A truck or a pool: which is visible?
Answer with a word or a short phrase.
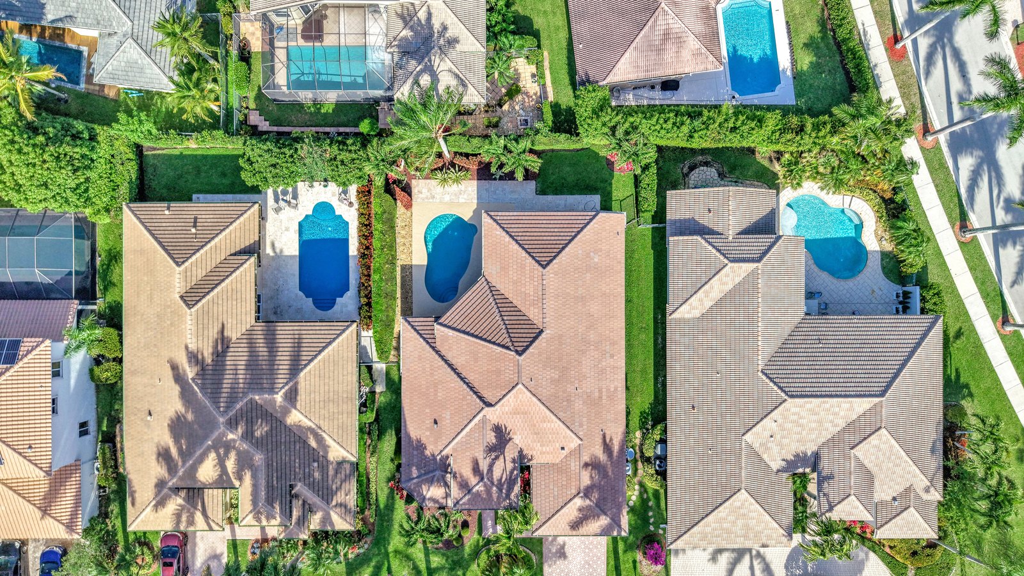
pool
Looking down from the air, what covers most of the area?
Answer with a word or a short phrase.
buildings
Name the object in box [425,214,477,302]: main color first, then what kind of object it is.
blue swimming pool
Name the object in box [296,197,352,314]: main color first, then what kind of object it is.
blue swimming pool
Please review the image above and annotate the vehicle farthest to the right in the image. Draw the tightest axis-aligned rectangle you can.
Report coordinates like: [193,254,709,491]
[159,533,192,576]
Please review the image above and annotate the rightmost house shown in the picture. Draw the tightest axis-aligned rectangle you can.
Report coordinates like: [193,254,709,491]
[665,187,946,550]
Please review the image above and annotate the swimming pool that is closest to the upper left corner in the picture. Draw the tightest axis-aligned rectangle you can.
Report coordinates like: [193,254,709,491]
[0,30,87,91]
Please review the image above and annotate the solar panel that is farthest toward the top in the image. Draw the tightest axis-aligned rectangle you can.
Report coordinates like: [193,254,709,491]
[0,339,26,374]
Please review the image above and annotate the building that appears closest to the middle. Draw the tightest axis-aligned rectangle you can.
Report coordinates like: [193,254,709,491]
[400,210,629,537]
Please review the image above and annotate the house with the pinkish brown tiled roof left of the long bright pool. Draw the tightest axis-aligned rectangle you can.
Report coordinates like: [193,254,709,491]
[566,0,724,89]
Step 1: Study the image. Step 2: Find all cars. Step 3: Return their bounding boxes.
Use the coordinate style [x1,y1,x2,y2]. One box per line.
[159,533,192,576]
[0,542,30,576]
[38,544,68,576]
